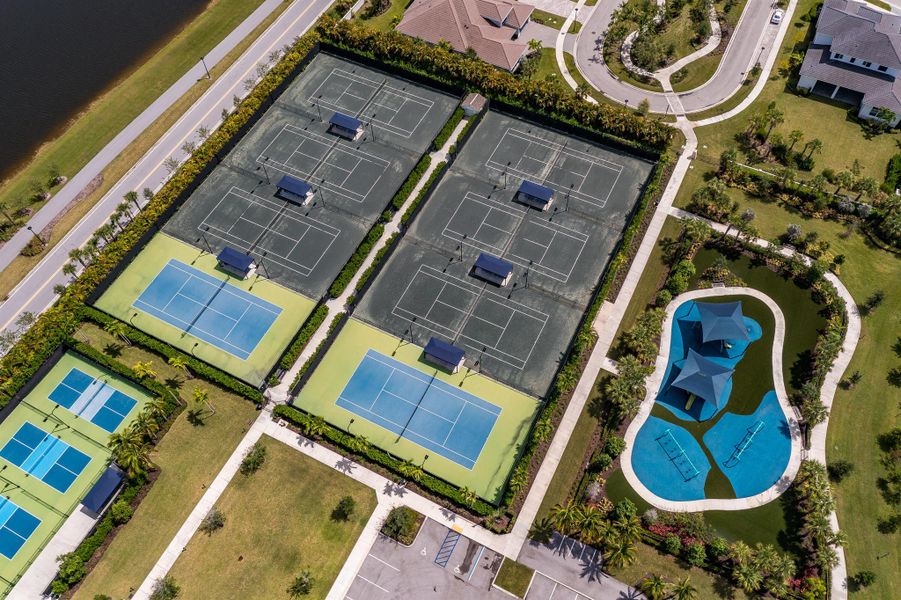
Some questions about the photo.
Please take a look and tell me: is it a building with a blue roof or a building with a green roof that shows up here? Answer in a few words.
building with a blue roof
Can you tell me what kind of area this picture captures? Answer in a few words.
sports ground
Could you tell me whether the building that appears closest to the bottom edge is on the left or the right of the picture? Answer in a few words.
left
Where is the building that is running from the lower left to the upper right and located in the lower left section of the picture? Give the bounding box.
[79,465,127,513]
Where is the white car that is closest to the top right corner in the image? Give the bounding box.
[772,6,785,21]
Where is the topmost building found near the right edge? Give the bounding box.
[798,0,901,127]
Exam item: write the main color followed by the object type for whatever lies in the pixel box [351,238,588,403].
gray tennis court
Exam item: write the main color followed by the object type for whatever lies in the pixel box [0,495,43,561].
blue sports court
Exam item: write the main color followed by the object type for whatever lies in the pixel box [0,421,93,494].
blue sports court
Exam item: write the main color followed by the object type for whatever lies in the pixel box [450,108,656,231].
gray tennis court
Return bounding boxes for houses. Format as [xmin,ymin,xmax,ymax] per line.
[798,0,901,127]
[392,0,538,75]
